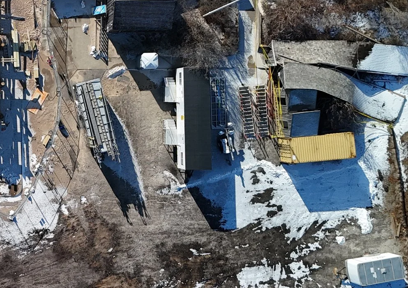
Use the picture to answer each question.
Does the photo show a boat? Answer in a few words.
No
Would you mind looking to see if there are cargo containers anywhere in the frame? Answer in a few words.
Yes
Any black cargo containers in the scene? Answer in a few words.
No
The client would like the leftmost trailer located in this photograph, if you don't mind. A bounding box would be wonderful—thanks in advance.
[72,73,123,167]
